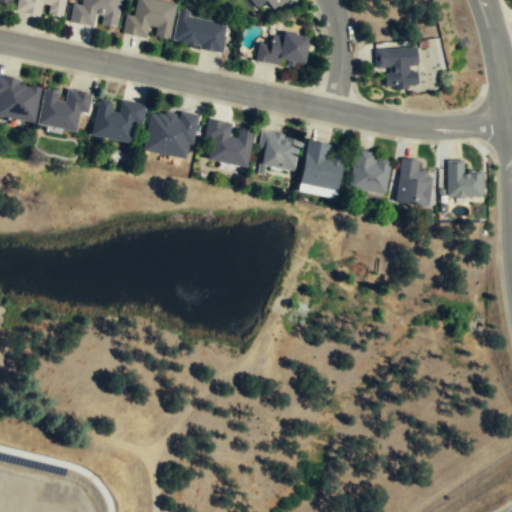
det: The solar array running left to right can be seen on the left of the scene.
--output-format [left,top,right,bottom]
[0,454,68,475]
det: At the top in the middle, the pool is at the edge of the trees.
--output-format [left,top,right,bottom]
[244,26,262,48]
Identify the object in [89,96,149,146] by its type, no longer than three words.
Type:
house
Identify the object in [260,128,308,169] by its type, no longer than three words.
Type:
house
